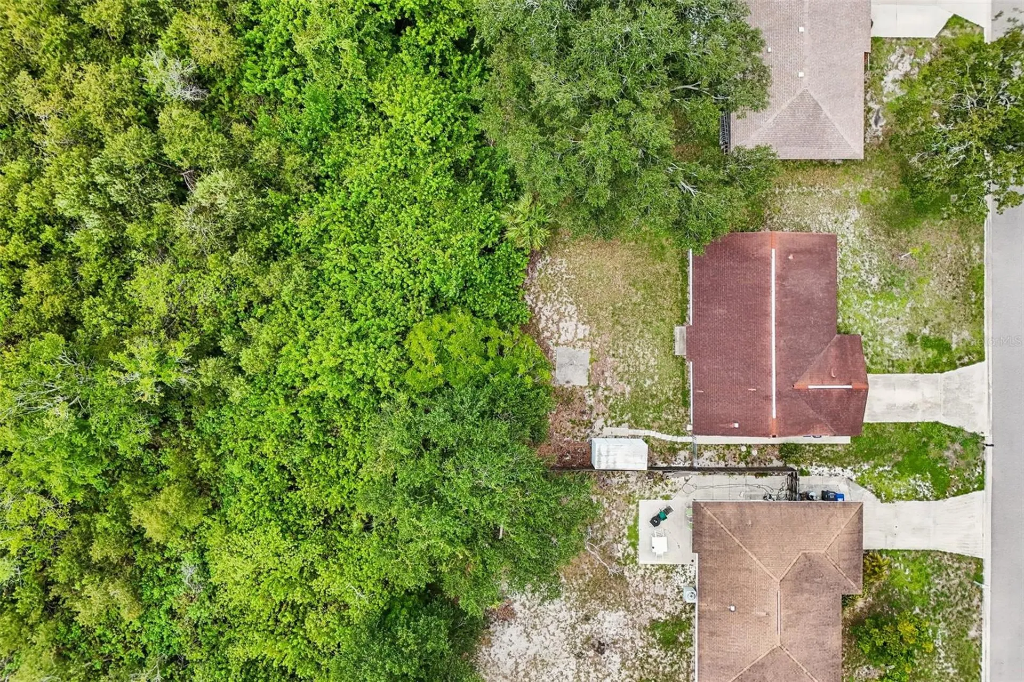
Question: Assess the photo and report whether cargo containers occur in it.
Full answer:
No, no cargo container is visible in the view.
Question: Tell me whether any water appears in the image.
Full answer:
No, no water is visible.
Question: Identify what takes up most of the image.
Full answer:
The scene is dominated by trees.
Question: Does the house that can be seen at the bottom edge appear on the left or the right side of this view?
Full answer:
You can find the house that can be seen at the bottom edge on the right side of the picture.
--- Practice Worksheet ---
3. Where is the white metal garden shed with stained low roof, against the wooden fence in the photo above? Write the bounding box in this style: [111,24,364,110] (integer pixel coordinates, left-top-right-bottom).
[592,438,649,470]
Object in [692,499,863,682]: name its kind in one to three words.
house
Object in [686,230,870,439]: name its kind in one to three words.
house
